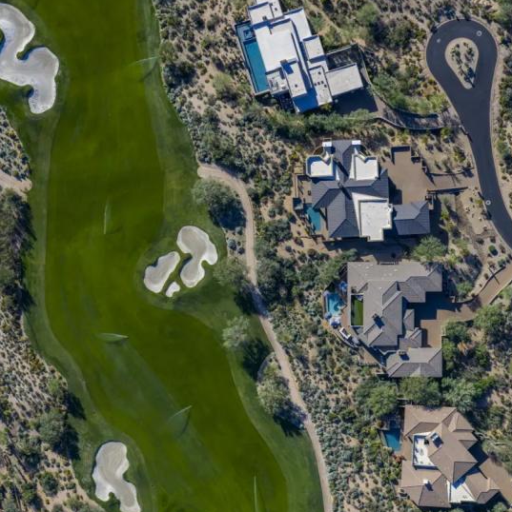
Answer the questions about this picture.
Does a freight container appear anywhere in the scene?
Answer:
No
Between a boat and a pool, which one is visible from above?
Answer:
pool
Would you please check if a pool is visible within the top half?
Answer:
Yes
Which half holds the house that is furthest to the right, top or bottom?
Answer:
bottom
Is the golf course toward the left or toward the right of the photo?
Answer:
left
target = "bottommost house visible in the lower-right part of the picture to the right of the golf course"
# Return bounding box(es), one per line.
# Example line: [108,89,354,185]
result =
[400,405,500,509]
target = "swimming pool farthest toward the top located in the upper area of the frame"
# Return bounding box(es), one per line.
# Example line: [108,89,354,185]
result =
[234,19,257,42]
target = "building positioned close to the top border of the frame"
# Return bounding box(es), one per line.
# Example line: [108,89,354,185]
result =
[248,0,364,114]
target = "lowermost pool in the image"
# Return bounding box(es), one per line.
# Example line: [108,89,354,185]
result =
[383,425,402,455]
